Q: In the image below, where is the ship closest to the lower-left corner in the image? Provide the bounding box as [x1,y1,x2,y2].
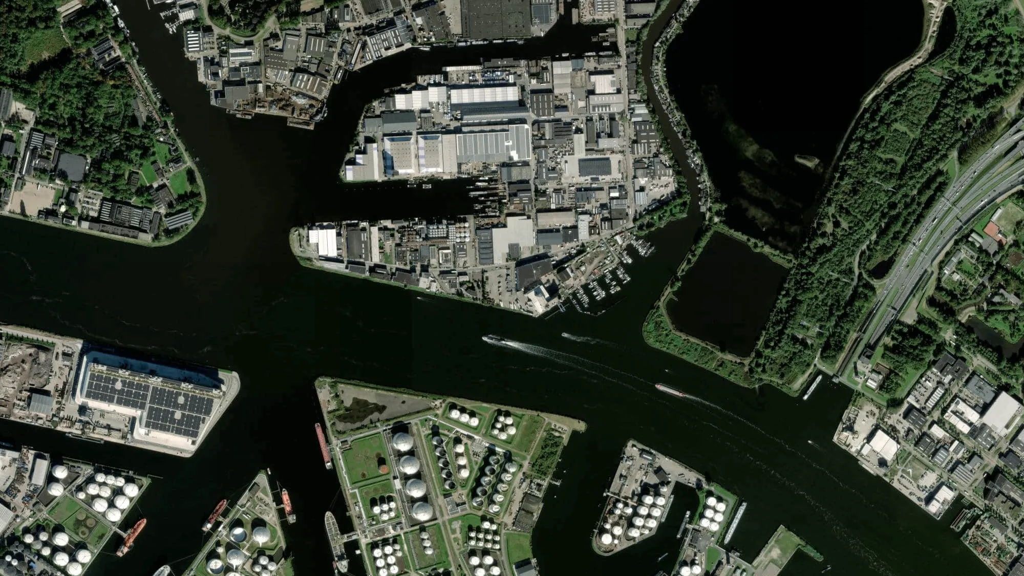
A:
[117,518,146,558]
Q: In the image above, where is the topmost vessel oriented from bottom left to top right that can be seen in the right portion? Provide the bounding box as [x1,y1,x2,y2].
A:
[803,375,822,400]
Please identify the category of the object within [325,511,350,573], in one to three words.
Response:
ship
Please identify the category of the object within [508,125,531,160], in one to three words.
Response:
building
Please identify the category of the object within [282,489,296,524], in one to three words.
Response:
ship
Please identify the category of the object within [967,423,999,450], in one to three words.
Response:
building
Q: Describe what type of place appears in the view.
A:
port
